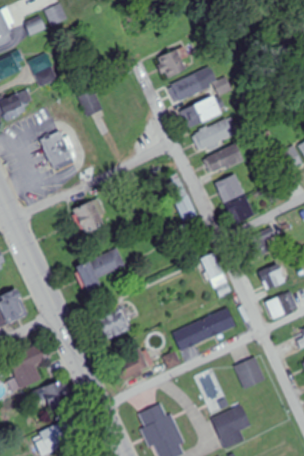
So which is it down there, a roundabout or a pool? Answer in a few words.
pool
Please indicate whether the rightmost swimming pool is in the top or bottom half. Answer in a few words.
bottom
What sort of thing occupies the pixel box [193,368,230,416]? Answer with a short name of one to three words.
swimming pool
